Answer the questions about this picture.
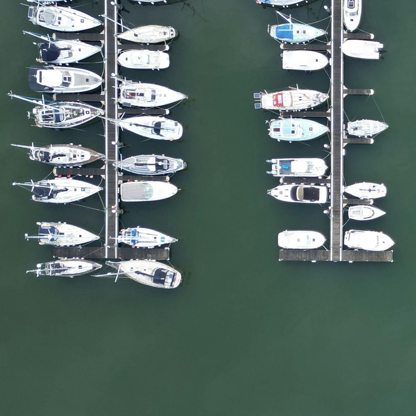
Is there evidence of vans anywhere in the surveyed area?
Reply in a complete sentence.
No, the scene contains no van.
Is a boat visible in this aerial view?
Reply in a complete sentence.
Yes, the picture does show a boat.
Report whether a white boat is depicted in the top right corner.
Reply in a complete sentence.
Yes, in the top right corner there is a white boat.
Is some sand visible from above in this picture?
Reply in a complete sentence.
No, sand can't be seen anywhere here.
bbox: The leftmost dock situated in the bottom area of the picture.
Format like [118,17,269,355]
[54,246,105,259]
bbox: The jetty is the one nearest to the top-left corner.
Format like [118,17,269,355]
[50,27,105,47]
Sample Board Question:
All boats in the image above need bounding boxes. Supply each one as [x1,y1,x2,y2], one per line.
[280,51,329,73]
[267,10,328,46]
[343,228,395,250]
[344,0,361,31]
[339,40,386,60]
[23,225,101,248]
[262,116,330,142]
[108,75,187,107]
[91,113,185,141]
[22,257,103,275]
[8,142,105,168]
[344,205,387,220]
[25,66,104,94]
[117,181,180,202]
[342,183,386,200]
[343,120,389,138]
[278,231,325,250]
[267,159,328,178]
[254,86,328,112]
[113,50,172,72]
[266,183,330,202]
[107,228,178,249]
[98,12,179,45]
[91,257,183,287]
[11,179,103,205]
[102,154,188,174]
[8,92,104,127]
[20,30,104,63]
[26,0,103,32]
